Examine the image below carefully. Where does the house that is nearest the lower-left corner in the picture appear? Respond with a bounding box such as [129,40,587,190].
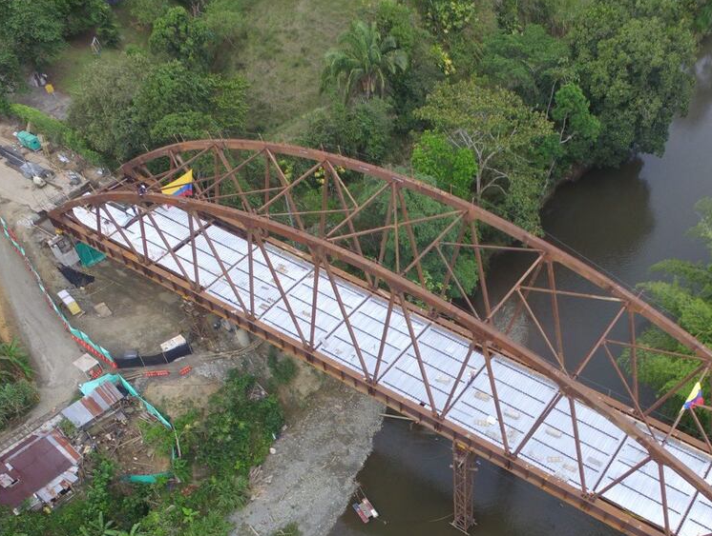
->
[0,429,88,507]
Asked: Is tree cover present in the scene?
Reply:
Yes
